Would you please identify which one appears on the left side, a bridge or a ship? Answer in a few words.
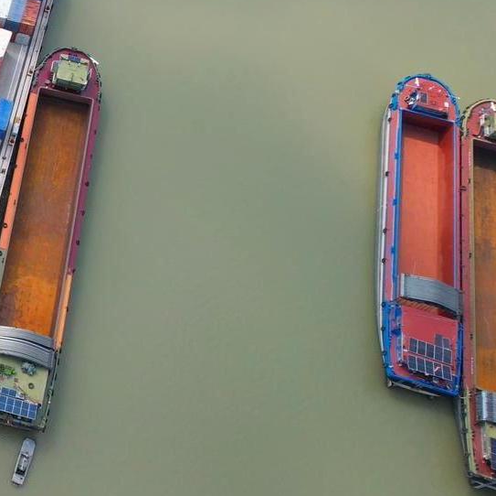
ship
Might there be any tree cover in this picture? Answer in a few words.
No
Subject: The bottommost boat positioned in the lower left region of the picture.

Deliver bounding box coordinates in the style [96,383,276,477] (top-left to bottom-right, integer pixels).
[12,437,36,487]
